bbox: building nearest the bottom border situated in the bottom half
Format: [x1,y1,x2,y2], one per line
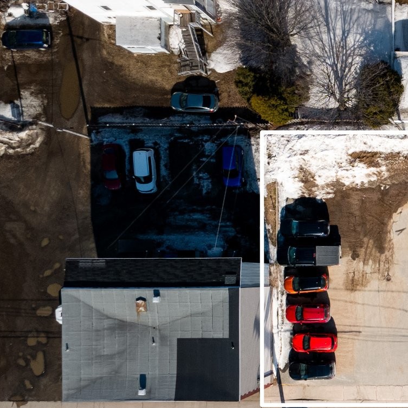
[62,258,274,402]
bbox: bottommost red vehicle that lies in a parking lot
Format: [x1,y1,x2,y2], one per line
[292,331,338,354]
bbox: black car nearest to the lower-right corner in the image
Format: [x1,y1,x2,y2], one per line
[290,359,338,383]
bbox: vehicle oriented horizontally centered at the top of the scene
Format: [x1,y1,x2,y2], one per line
[173,89,219,113]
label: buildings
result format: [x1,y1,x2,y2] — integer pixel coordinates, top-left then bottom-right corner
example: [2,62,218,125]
[62,258,274,402]
[65,0,234,52]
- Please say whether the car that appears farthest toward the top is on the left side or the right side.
left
